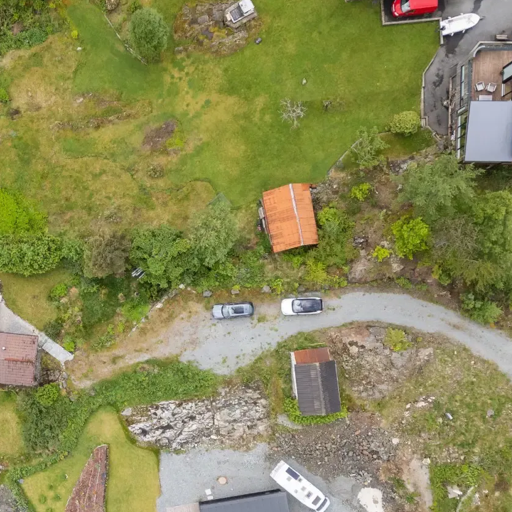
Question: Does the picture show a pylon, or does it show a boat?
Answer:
boat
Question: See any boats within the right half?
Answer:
Yes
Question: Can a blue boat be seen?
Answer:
No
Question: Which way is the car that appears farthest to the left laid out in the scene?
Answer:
from side to side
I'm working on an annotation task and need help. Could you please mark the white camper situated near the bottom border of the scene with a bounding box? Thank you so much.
[268,460,326,512]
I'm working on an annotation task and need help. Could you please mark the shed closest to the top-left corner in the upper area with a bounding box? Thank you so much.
[223,0,257,30]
